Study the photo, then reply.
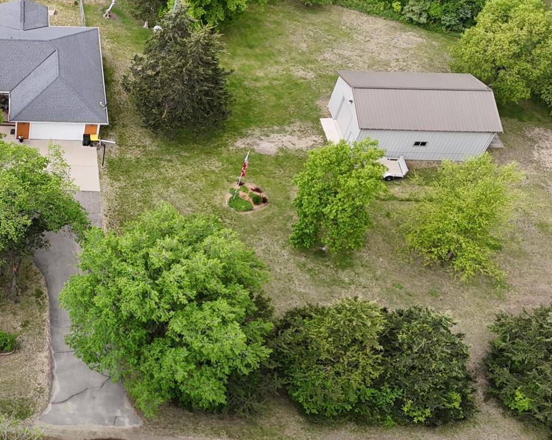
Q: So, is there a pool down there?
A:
No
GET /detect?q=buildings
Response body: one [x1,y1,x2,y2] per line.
[316,70,504,162]
[0,0,116,144]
